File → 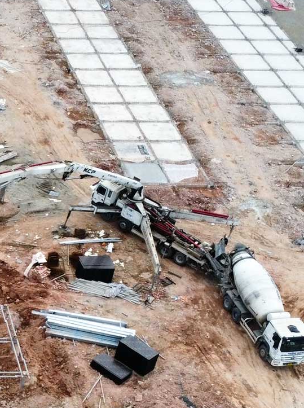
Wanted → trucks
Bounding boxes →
[0,159,240,301]
[220,247,304,361]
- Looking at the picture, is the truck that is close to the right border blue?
No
